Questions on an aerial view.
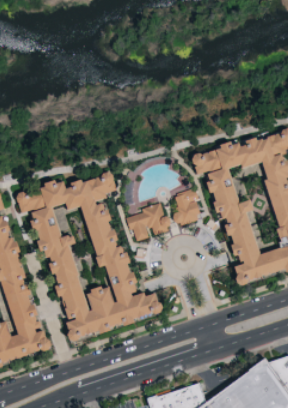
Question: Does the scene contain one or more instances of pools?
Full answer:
Yes, there's a pool down there.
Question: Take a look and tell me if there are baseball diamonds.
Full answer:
No, I find no baseball diamond anywhere in the image.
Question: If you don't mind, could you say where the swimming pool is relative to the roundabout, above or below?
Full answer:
It's above the roundabout that the swimming pool shows up.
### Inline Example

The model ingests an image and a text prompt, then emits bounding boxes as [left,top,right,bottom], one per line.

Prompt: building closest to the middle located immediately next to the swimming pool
[126,203,172,240]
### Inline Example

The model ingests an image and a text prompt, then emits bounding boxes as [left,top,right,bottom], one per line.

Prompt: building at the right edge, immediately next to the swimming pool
[190,129,288,285]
